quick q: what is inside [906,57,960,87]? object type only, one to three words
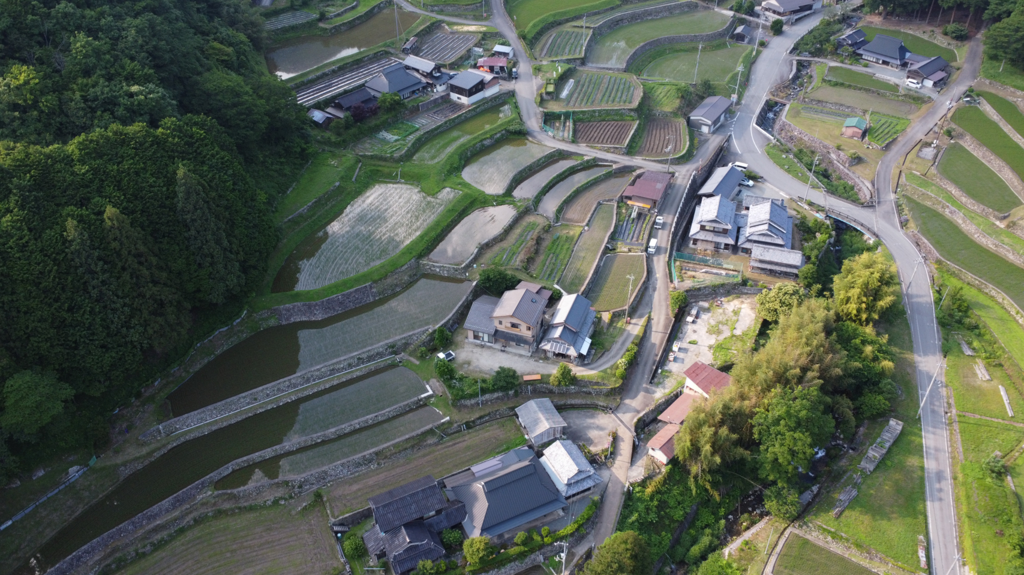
building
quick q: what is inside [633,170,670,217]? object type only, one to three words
shed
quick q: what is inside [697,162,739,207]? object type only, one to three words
barn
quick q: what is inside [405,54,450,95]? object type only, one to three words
house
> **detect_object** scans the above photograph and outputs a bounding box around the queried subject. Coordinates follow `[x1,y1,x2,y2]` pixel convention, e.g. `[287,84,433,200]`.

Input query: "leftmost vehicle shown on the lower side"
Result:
[435,349,456,362]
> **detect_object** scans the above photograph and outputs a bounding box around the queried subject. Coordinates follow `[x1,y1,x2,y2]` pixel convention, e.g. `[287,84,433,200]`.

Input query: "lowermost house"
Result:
[361,518,446,575]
